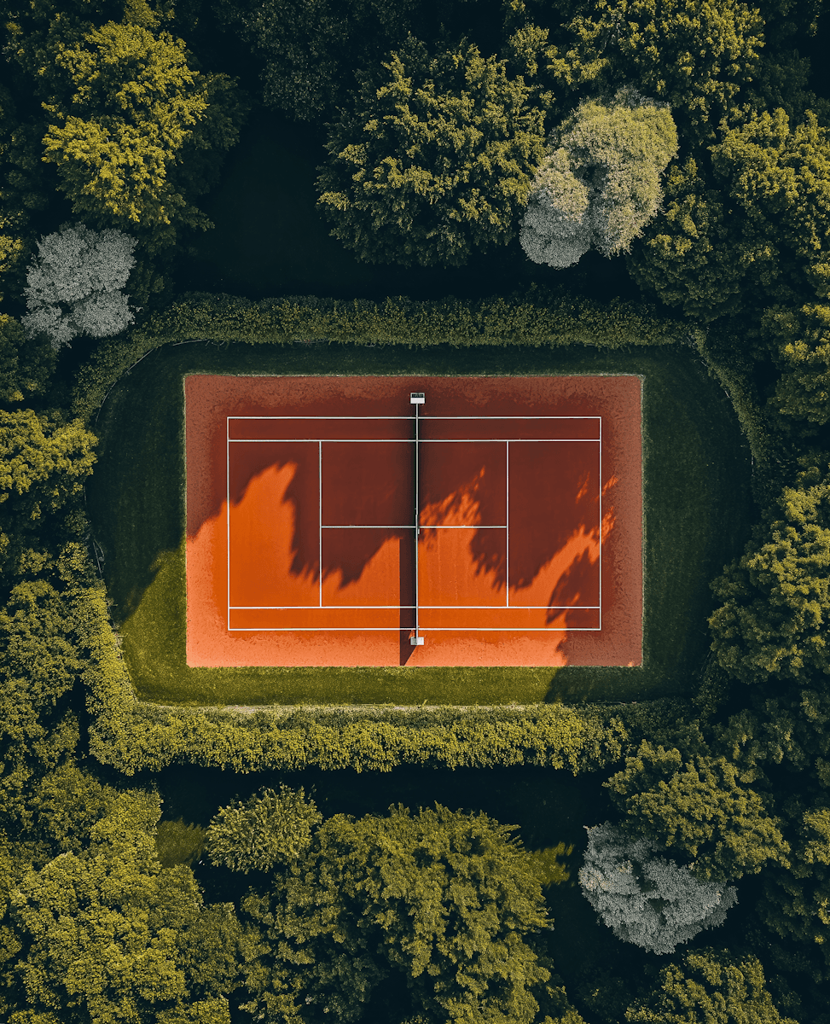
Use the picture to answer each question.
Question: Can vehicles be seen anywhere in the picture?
No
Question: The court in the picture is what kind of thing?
tennis court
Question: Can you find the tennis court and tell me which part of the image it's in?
center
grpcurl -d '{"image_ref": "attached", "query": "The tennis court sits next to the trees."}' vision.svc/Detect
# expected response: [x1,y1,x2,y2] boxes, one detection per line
[185,374,643,667]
